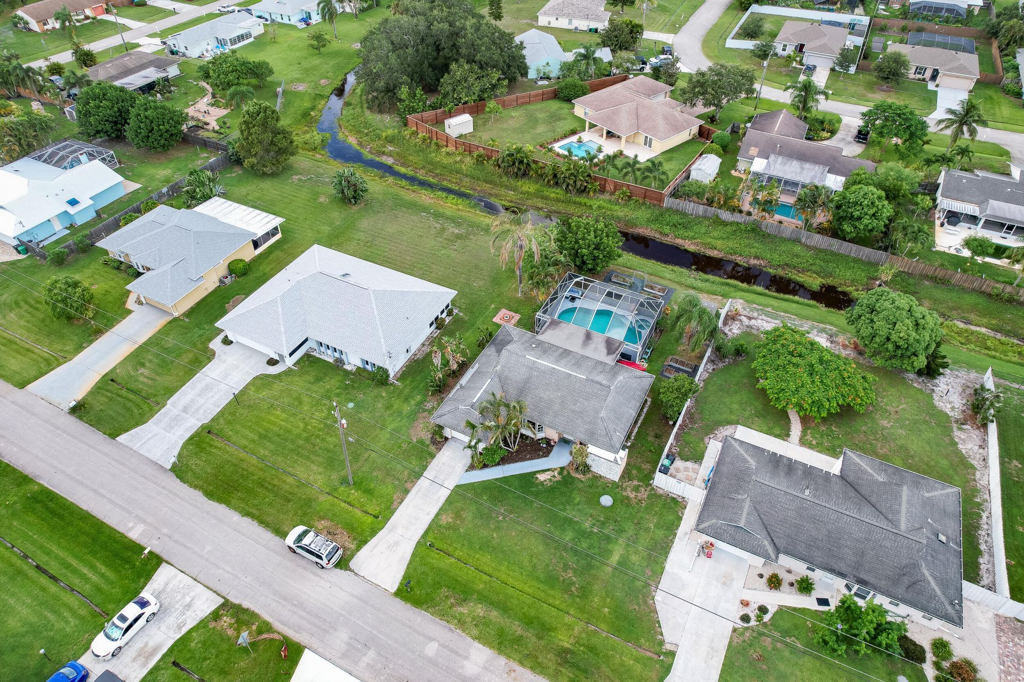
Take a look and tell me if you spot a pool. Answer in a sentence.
Yes, a pool appears in the view.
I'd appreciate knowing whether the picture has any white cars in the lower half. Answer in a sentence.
Yes, a white car appears in the lower half.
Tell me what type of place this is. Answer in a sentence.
This image shows a residential area.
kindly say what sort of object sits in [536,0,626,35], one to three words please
house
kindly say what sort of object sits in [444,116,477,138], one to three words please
shed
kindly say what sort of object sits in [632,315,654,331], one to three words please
swimming pool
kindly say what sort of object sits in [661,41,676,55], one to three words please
car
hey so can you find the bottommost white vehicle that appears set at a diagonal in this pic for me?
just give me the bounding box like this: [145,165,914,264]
[86,590,161,664]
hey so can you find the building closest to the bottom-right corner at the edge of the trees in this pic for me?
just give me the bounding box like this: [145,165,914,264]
[689,435,965,637]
